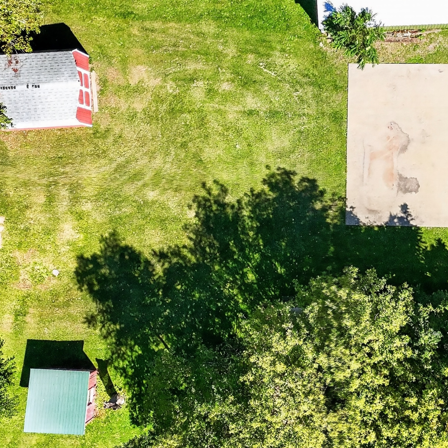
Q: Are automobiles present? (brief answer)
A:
No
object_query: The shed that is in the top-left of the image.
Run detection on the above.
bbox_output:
[0,46,92,132]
